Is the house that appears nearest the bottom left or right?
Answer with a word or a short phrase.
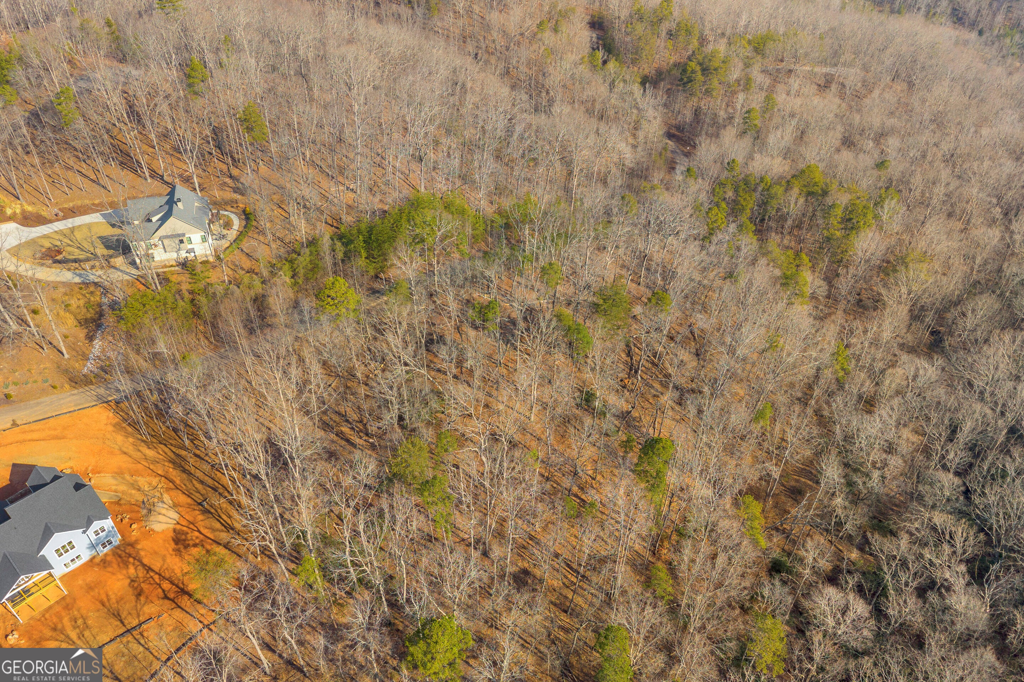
left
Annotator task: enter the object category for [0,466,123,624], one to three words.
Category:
house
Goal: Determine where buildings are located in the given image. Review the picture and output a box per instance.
[127,184,215,269]
[0,466,123,624]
